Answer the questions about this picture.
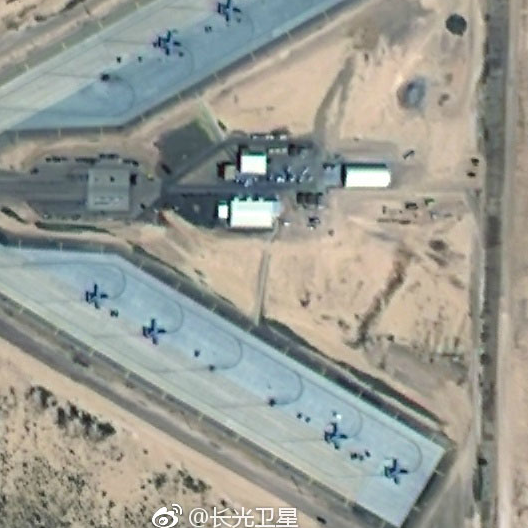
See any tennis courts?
No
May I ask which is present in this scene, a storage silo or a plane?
plane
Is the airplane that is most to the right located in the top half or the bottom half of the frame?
bottom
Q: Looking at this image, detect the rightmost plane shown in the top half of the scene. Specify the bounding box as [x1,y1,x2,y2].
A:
[217,0,241,21]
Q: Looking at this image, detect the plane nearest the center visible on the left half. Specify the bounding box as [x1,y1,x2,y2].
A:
[142,319,166,344]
